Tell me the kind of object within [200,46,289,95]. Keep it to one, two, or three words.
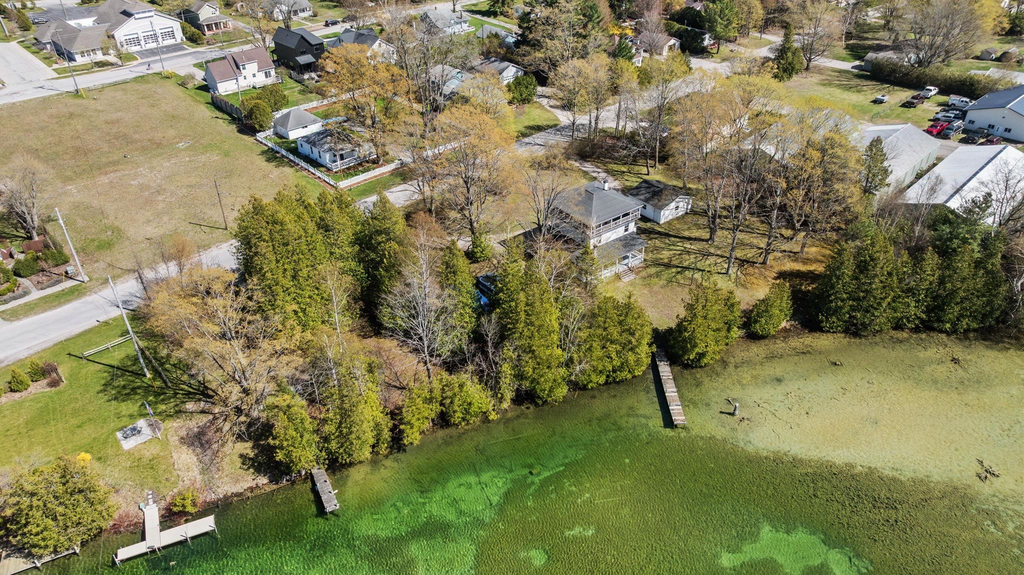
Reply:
house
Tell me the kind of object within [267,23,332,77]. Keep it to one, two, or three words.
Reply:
house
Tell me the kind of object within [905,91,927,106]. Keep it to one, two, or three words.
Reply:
vehicle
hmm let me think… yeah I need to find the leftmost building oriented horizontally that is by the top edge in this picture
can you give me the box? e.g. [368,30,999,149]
[32,1,180,62]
